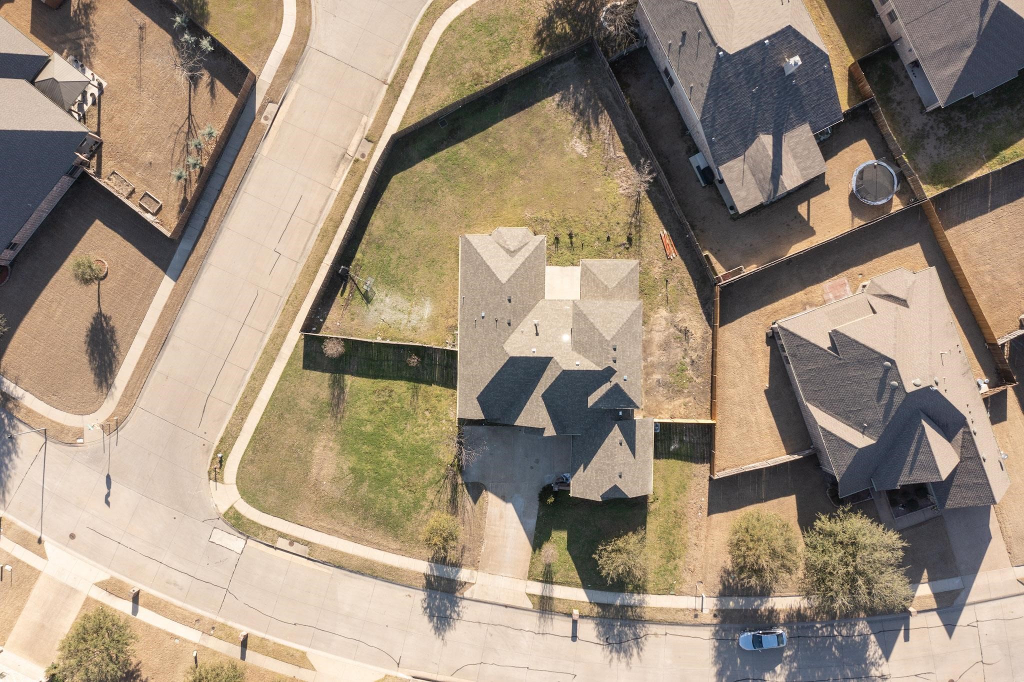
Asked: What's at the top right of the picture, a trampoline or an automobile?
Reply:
trampoline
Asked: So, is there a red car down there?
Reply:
No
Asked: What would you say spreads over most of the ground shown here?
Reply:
grass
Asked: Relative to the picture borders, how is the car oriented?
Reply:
from side to side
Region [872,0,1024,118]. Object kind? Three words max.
house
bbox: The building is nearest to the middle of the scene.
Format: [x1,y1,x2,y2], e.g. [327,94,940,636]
[456,226,654,500]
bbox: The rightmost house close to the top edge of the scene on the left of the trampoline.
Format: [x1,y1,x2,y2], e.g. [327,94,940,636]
[626,0,844,213]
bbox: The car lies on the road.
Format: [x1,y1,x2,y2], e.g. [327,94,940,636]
[739,628,789,655]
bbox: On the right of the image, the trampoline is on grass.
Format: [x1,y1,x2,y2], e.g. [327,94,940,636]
[851,158,908,207]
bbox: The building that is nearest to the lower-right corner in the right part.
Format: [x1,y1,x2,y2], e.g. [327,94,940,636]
[766,266,1012,508]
